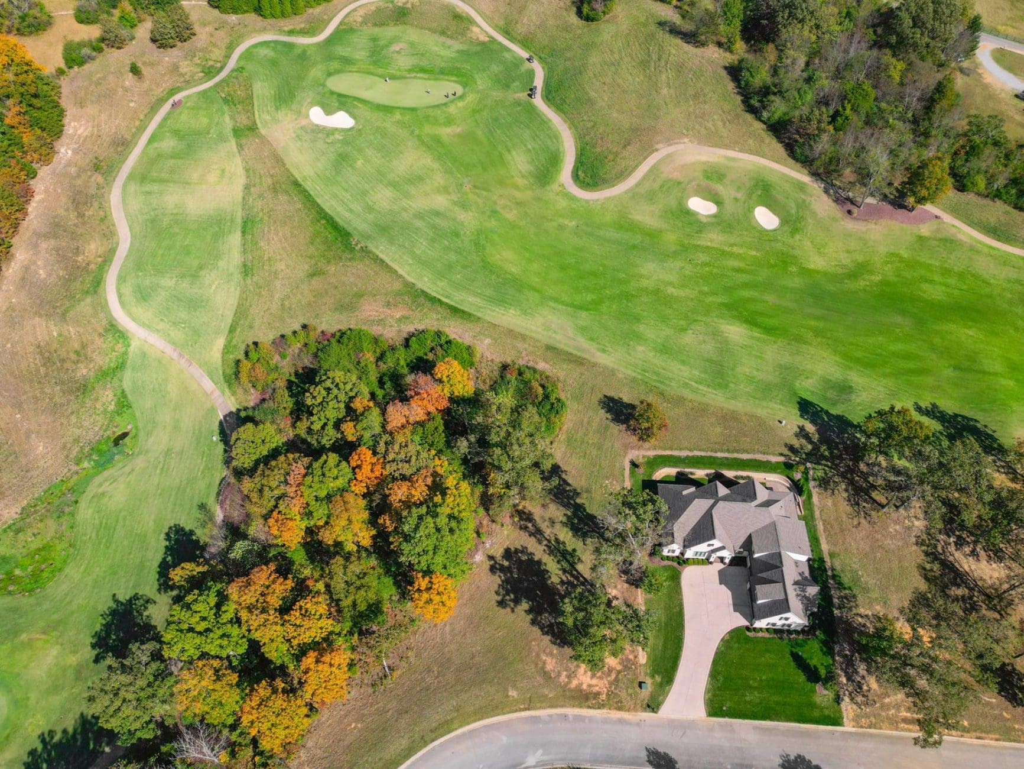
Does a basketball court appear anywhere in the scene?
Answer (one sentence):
No, I can see no basketball court in this picture.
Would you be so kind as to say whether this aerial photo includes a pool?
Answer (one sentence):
No, the frame has no pool in it.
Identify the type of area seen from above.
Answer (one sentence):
The picture captures a golf course.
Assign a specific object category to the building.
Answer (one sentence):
The building appears to be a residential house.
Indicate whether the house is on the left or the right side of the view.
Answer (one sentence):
The house appears in the right half of the scene.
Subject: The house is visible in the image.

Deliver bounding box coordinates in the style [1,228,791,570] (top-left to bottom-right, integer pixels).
[657,477,820,631]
